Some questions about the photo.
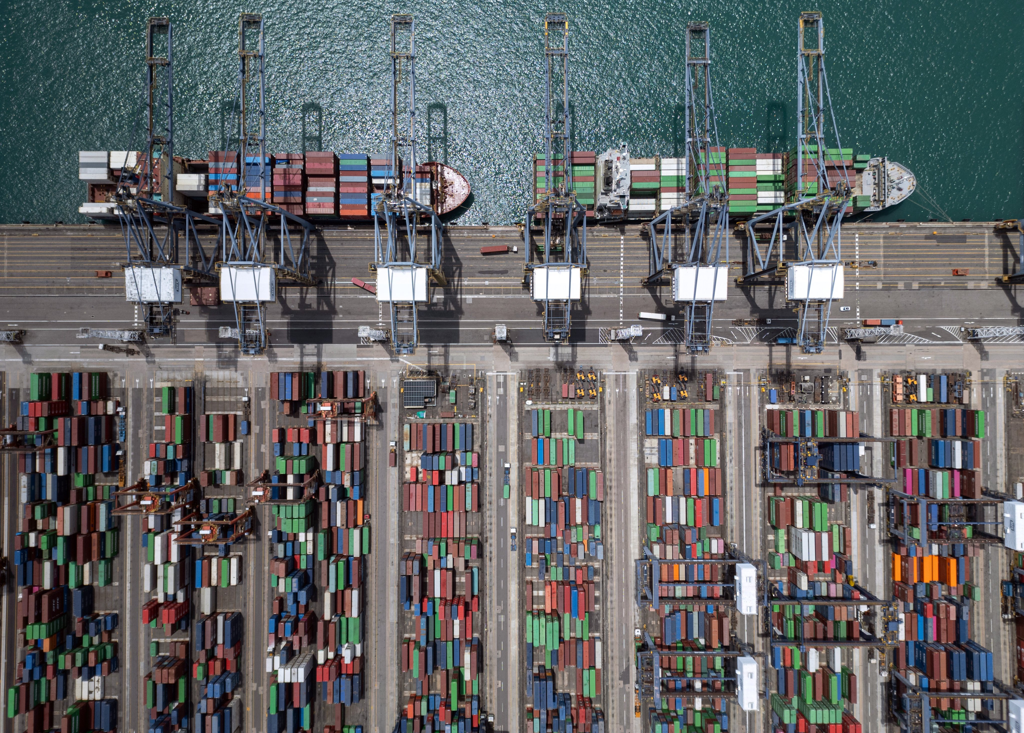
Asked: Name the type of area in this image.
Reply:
port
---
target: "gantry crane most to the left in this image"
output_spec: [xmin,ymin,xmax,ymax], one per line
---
[0,422,63,454]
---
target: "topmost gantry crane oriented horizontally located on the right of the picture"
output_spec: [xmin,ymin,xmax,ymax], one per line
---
[763,423,903,490]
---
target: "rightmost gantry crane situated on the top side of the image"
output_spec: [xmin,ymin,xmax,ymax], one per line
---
[987,217,1024,282]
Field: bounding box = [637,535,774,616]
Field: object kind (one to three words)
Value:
container crane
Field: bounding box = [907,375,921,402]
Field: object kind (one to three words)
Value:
work vehicle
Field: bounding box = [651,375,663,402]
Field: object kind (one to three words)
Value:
vehicle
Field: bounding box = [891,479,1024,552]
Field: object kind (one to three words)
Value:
container crane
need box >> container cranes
[170,508,249,546]
[632,21,728,354]
[987,217,1024,282]
[512,14,591,341]
[120,23,242,343]
[373,15,459,355]
[763,423,903,490]
[306,391,376,422]
[639,620,776,711]
[110,480,190,516]
[891,479,1024,552]
[728,12,847,354]
[0,422,63,454]
[219,16,330,356]
[766,573,913,655]
[637,535,774,616]
[896,658,1024,733]
[245,471,318,506]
